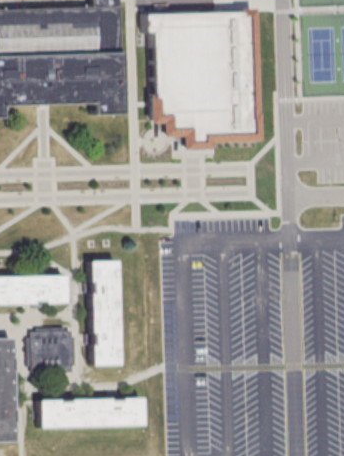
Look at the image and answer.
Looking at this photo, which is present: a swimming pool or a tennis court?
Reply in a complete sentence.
I can see a tennis court in this picture.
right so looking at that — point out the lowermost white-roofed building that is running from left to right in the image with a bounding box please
[37,396,148,430]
